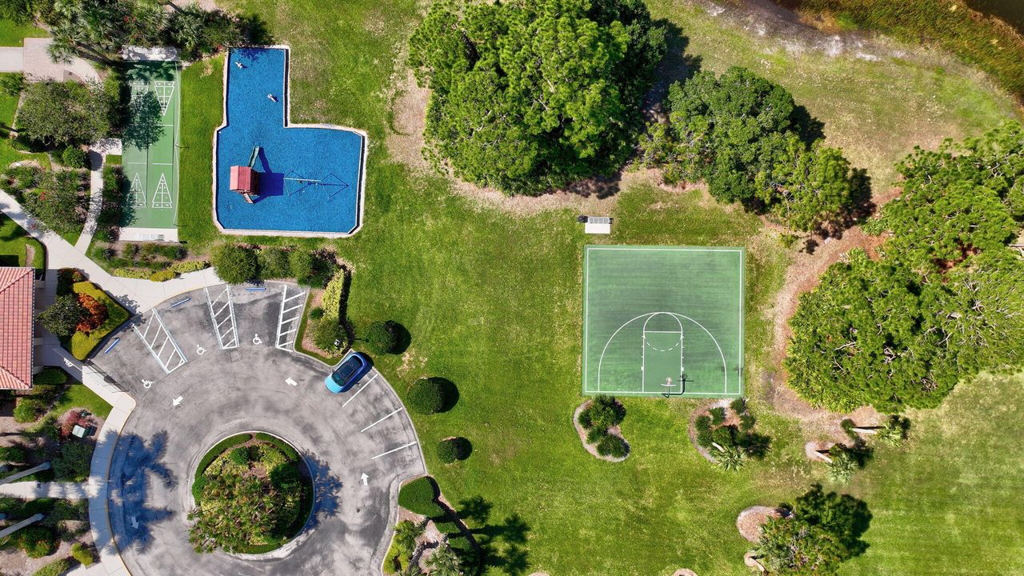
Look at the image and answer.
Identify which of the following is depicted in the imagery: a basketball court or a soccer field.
basketball court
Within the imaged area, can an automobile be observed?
Yes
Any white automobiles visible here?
No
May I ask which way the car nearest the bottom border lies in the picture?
diagonally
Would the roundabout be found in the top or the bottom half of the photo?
bottom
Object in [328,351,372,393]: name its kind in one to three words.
car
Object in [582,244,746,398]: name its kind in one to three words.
basketball court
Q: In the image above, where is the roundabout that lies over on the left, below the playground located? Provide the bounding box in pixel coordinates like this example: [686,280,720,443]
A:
[123,363,383,576]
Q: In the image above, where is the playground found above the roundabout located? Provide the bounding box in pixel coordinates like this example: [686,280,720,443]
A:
[211,44,367,237]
